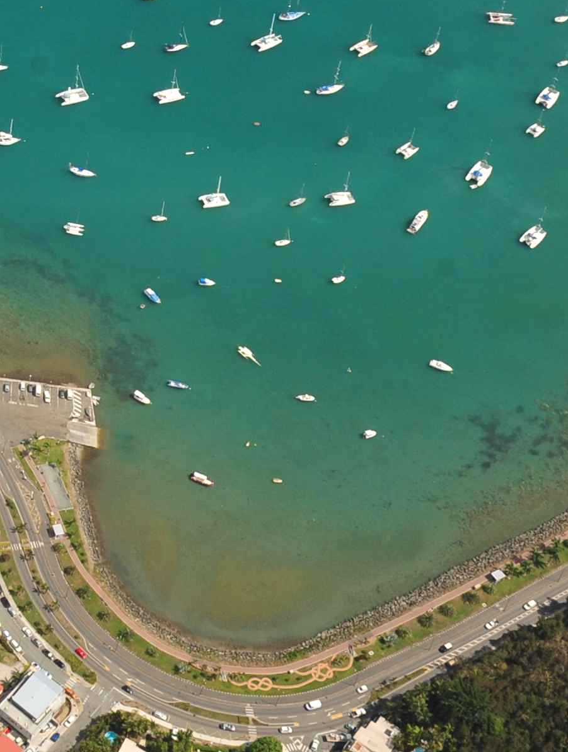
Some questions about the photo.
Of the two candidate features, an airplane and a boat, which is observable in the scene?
boat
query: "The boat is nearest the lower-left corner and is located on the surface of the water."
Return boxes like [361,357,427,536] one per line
[189,472,214,485]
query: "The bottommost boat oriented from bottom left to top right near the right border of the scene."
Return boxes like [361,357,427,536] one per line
[519,207,547,250]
